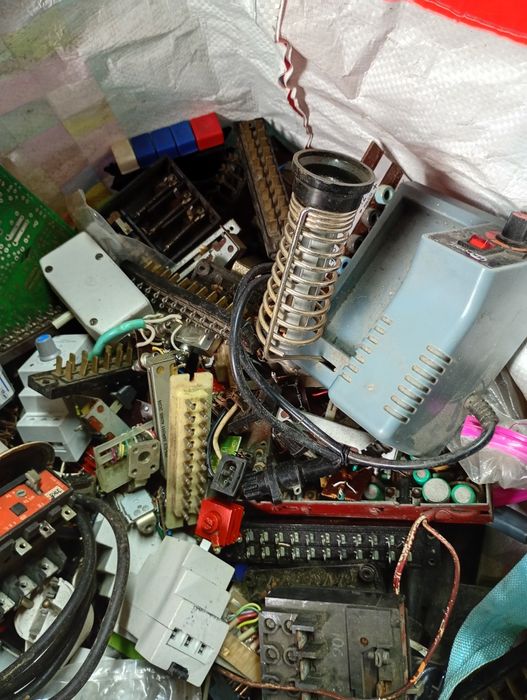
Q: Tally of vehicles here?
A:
0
